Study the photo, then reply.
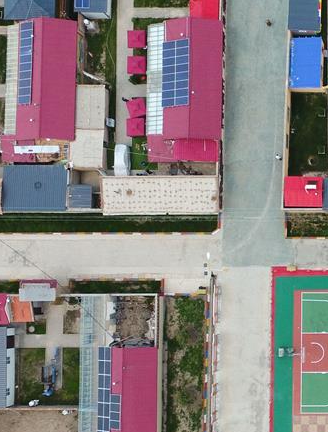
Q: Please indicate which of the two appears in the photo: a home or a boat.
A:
home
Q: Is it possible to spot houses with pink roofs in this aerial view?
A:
Yes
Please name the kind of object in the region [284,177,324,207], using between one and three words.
shed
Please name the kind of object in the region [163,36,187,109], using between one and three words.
solar array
